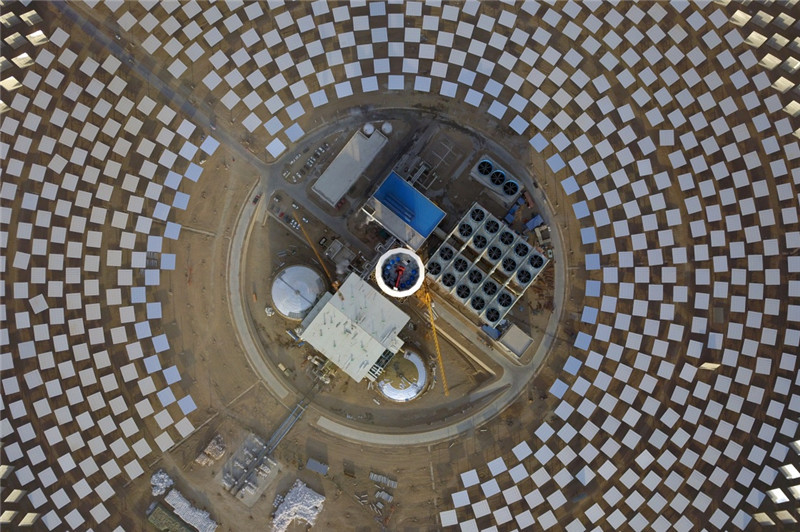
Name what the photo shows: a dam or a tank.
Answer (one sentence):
Of the two, only a tank appears.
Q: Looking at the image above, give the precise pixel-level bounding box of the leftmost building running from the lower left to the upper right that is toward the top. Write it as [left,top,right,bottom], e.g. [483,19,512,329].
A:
[312,129,389,210]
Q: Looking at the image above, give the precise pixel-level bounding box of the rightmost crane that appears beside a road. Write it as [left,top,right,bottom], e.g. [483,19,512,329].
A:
[415,263,448,397]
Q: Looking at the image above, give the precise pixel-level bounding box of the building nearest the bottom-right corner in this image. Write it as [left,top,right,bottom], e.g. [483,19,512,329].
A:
[498,323,533,357]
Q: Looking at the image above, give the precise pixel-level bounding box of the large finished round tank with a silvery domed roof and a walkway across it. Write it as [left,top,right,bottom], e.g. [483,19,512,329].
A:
[272,262,331,321]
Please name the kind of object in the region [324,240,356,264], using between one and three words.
building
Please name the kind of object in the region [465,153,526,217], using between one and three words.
cooling tower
